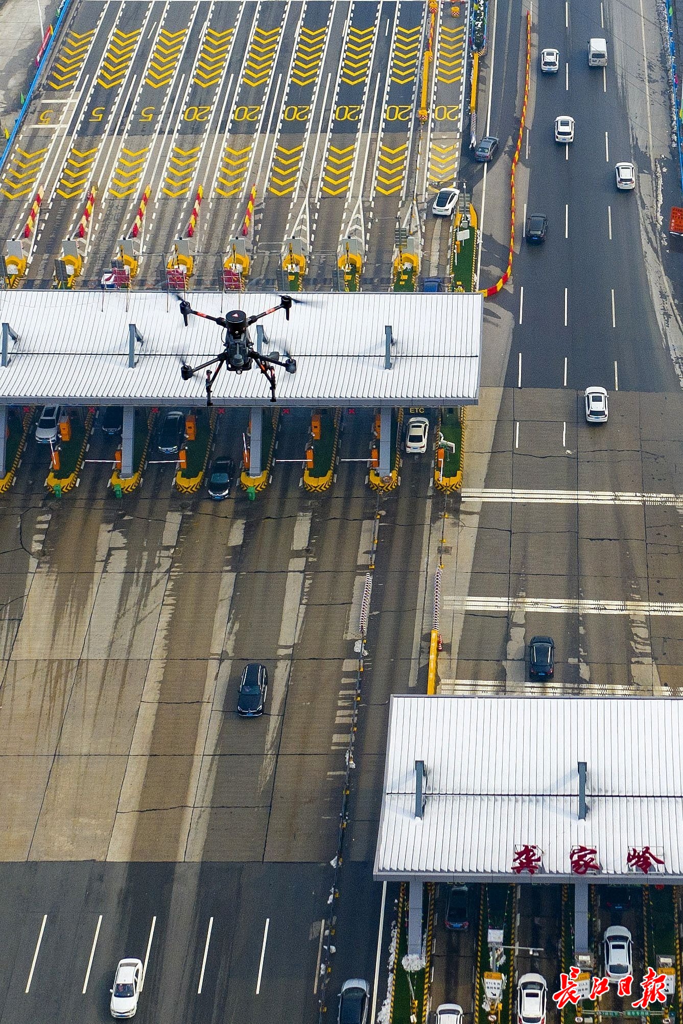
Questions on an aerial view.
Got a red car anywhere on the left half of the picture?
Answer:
No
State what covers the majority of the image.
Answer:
paved ground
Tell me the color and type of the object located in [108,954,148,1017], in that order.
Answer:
white car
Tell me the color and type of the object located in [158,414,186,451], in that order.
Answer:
black car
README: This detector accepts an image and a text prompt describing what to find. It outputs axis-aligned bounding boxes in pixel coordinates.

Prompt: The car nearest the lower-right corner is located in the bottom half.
[600,924,634,983]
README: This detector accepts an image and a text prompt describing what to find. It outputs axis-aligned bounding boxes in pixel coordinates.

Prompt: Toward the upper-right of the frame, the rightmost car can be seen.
[614,163,636,189]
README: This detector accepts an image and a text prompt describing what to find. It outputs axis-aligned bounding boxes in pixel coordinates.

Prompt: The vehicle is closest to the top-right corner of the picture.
[587,38,607,65]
